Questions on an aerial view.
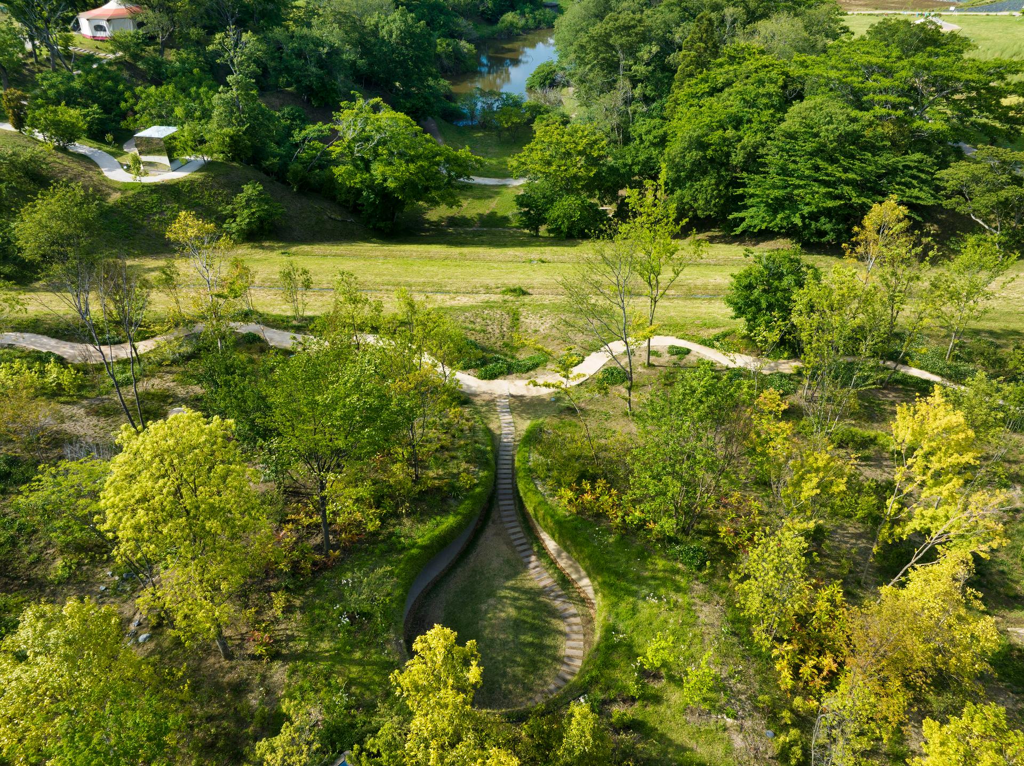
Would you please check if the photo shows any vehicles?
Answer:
No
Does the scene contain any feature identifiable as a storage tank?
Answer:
No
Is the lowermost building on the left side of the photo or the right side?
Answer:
left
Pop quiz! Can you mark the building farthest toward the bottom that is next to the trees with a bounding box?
[133,125,198,171]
